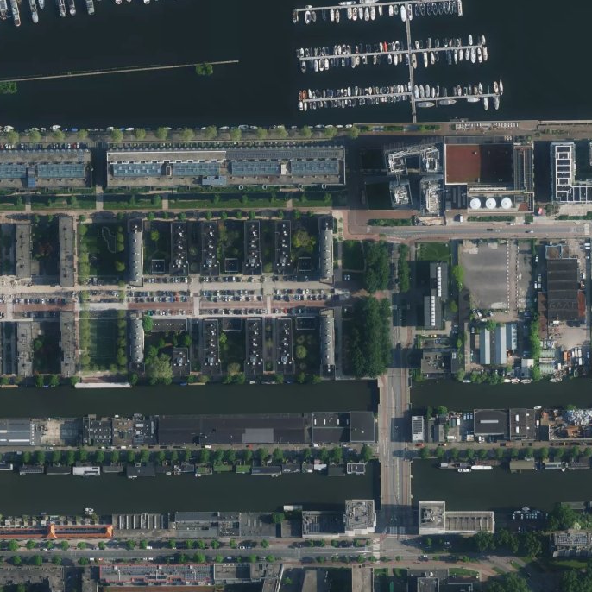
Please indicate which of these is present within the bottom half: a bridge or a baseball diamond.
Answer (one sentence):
The feature located within the bottom half is a bridge.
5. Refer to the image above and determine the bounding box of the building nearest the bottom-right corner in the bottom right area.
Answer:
[553,534,592,556]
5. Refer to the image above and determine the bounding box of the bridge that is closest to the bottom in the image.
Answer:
[376,460,412,508]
